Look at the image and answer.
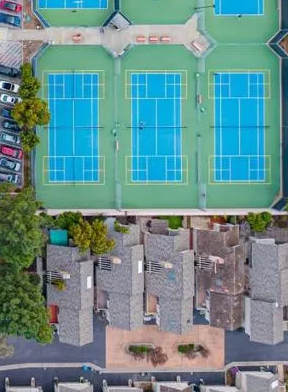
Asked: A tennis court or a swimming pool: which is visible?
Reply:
tennis court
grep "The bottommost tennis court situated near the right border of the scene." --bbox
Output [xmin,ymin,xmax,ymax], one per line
[198,45,281,210]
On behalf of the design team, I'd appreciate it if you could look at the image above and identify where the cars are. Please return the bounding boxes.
[0,119,23,131]
[0,65,19,77]
[0,132,20,144]
[0,93,21,104]
[0,106,20,118]
[0,13,20,25]
[0,170,19,183]
[0,81,20,93]
[0,158,21,170]
[0,0,22,12]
